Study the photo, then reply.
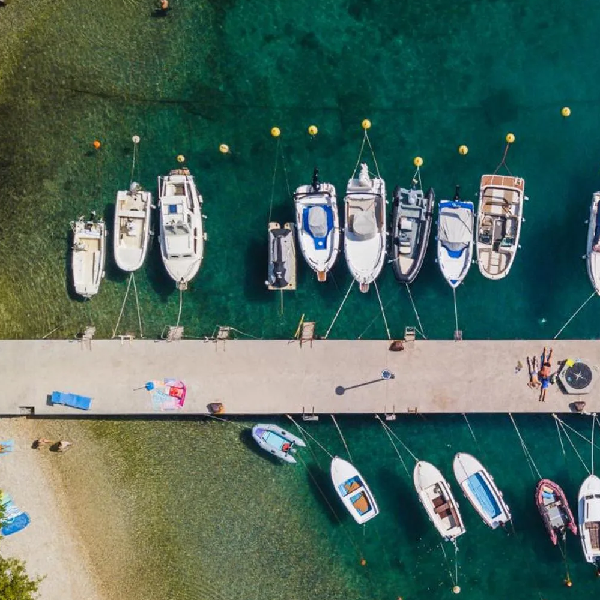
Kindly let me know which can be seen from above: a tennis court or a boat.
boat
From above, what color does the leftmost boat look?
white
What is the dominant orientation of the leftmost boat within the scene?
from top to bottom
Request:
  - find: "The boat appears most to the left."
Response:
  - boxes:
[70,210,108,298]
